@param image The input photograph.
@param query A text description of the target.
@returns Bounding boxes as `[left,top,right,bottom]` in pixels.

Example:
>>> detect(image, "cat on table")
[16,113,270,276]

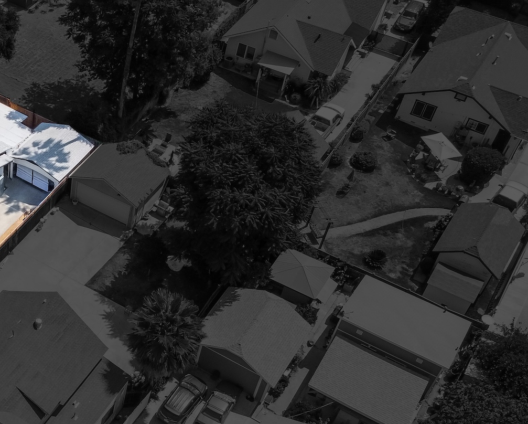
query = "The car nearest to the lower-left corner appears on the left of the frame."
[155,375,204,424]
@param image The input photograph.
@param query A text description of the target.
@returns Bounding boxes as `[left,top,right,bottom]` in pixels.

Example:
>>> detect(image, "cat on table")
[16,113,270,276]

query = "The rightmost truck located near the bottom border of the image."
[194,383,239,424]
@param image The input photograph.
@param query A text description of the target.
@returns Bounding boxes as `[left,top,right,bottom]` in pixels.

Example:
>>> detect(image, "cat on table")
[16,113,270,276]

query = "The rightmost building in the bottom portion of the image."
[423,201,526,317]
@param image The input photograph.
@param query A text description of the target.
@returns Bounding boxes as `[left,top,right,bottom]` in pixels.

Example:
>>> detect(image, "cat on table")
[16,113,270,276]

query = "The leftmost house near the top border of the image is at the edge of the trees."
[221,0,396,98]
